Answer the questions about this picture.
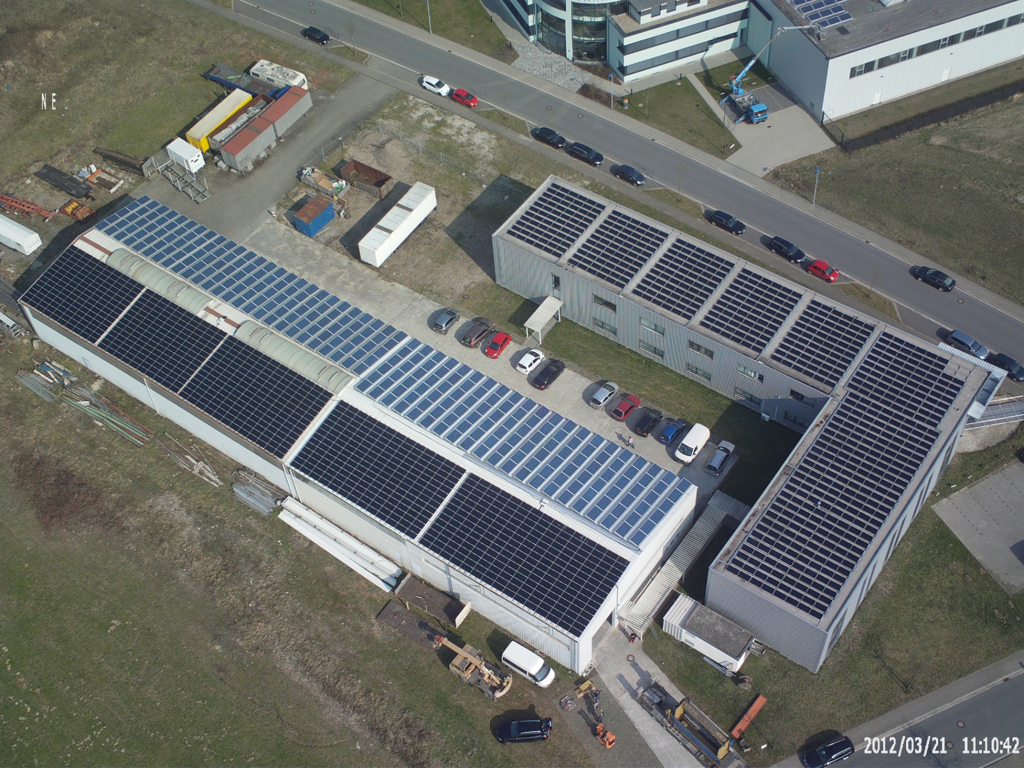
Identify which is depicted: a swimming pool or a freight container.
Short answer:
freight container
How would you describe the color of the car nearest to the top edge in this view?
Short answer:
black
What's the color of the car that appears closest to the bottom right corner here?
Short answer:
black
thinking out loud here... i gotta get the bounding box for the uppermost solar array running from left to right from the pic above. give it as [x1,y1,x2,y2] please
[789,0,852,29]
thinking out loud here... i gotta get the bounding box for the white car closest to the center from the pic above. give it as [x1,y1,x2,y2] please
[514,347,546,377]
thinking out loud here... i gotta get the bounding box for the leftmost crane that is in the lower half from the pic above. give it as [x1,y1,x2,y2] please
[434,634,510,697]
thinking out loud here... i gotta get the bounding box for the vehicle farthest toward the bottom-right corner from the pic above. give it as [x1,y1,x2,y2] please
[800,732,858,768]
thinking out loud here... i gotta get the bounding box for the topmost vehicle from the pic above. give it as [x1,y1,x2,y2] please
[301,25,334,48]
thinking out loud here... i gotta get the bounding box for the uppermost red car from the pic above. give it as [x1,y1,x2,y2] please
[450,88,480,109]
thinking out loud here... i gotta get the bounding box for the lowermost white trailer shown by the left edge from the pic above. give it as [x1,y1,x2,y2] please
[0,215,42,257]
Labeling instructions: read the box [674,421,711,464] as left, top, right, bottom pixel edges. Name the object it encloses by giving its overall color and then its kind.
white van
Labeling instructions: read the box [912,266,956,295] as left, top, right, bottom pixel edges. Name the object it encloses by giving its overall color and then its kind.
black car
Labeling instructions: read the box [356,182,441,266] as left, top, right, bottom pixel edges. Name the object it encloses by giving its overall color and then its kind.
white trailer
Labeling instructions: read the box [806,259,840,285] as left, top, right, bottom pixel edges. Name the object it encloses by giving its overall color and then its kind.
red car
